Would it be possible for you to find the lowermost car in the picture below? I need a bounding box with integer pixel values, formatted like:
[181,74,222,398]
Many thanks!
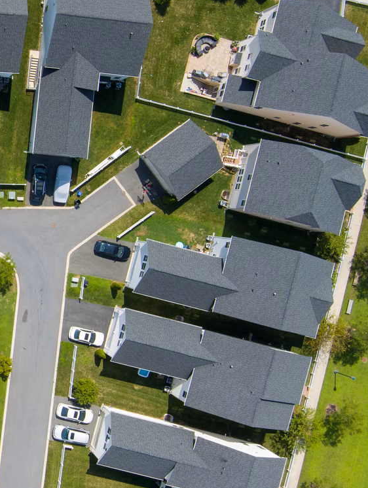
[51,424,90,446]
